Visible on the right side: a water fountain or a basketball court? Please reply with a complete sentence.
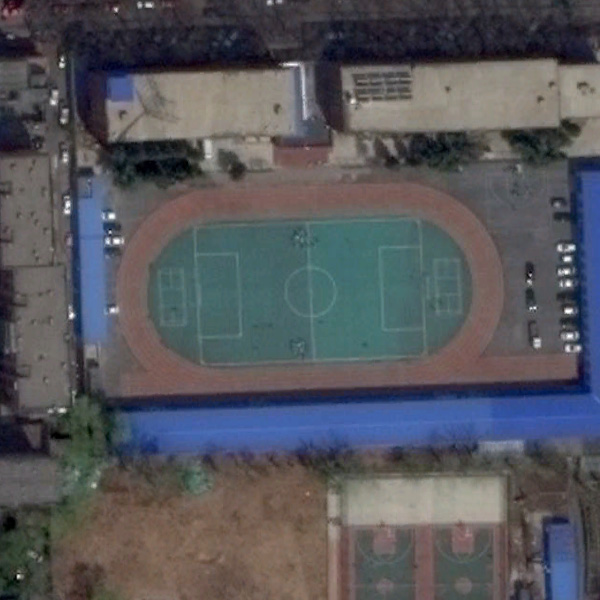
You can see a basketball court on the right side.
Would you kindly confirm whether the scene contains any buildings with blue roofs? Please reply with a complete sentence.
Yes, there is a building with a blue roof in the image.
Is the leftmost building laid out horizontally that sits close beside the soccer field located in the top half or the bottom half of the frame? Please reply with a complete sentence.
Seen from above, the leftmost building laid out horizontally that sits close beside the soccer field lies in the top half of the view.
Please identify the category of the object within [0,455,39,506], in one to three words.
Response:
building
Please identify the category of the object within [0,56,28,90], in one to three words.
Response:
house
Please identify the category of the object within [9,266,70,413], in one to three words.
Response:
building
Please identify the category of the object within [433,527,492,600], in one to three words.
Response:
basketball court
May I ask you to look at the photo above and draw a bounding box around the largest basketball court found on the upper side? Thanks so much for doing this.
[485,171,548,275]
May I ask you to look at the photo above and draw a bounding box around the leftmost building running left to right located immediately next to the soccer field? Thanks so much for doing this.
[101,66,293,141]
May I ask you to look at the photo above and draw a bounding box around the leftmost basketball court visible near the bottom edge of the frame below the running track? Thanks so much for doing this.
[357,527,411,600]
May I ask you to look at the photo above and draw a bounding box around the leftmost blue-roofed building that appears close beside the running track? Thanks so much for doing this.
[77,173,108,344]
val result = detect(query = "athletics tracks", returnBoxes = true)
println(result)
[117,182,575,412]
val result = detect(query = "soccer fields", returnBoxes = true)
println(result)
[151,218,469,364]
